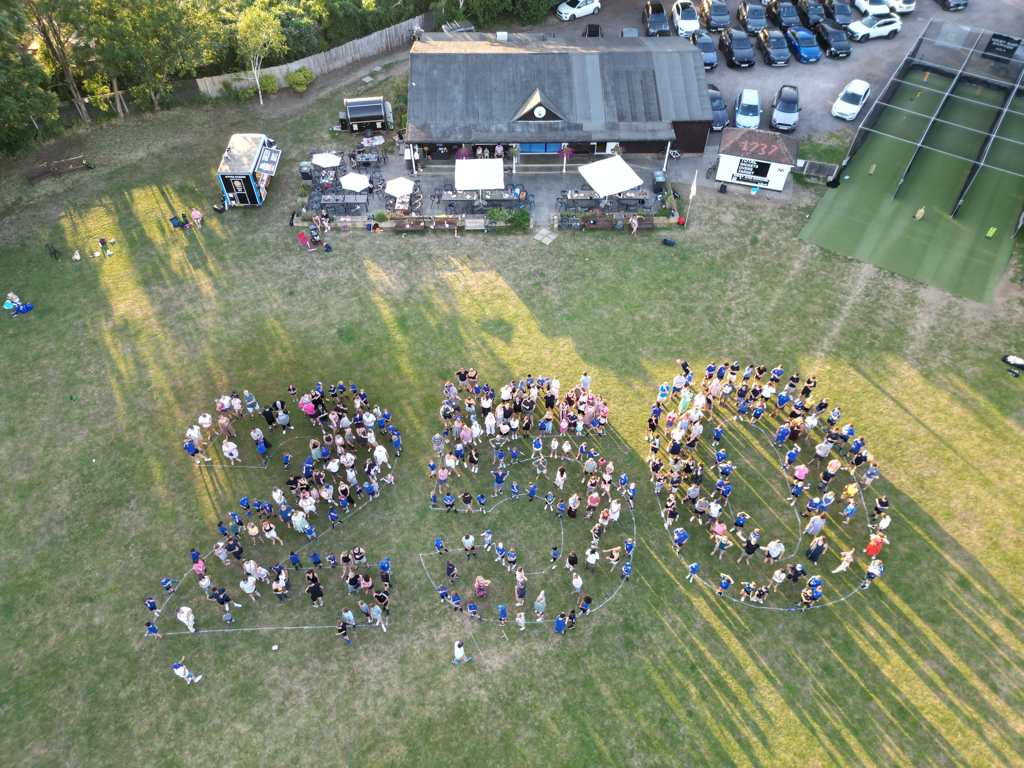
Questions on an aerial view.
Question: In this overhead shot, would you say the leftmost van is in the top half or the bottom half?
top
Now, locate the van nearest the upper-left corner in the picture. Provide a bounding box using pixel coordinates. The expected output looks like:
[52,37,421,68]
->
[212,125,286,202]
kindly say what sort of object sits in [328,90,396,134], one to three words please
trailer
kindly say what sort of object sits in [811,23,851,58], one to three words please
car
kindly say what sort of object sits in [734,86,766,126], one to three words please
car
